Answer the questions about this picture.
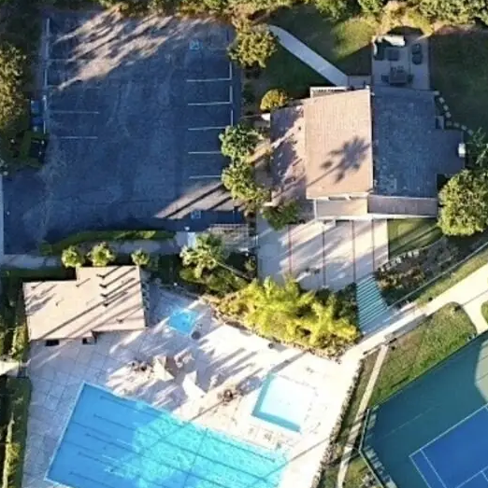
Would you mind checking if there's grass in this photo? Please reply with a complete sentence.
Yes, the picture does contain grass.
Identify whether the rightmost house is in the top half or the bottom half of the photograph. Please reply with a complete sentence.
The rightmost house sits in the top half of the picture.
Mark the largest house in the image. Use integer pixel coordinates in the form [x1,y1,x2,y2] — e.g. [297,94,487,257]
[271,87,465,227]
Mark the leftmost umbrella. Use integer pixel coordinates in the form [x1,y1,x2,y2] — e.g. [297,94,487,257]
[152,350,184,383]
